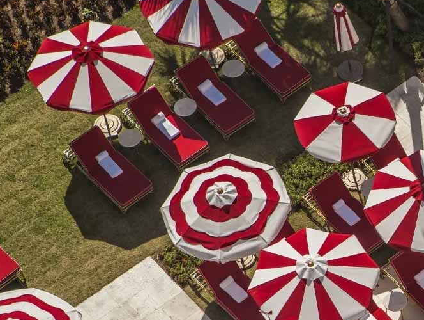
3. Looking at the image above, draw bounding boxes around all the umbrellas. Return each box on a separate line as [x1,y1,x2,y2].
[246,228,384,320]
[361,149,424,256]
[292,83,401,197]
[29,17,156,138]
[0,290,74,320]
[140,0,261,71]
[158,153,292,277]
[332,0,367,85]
